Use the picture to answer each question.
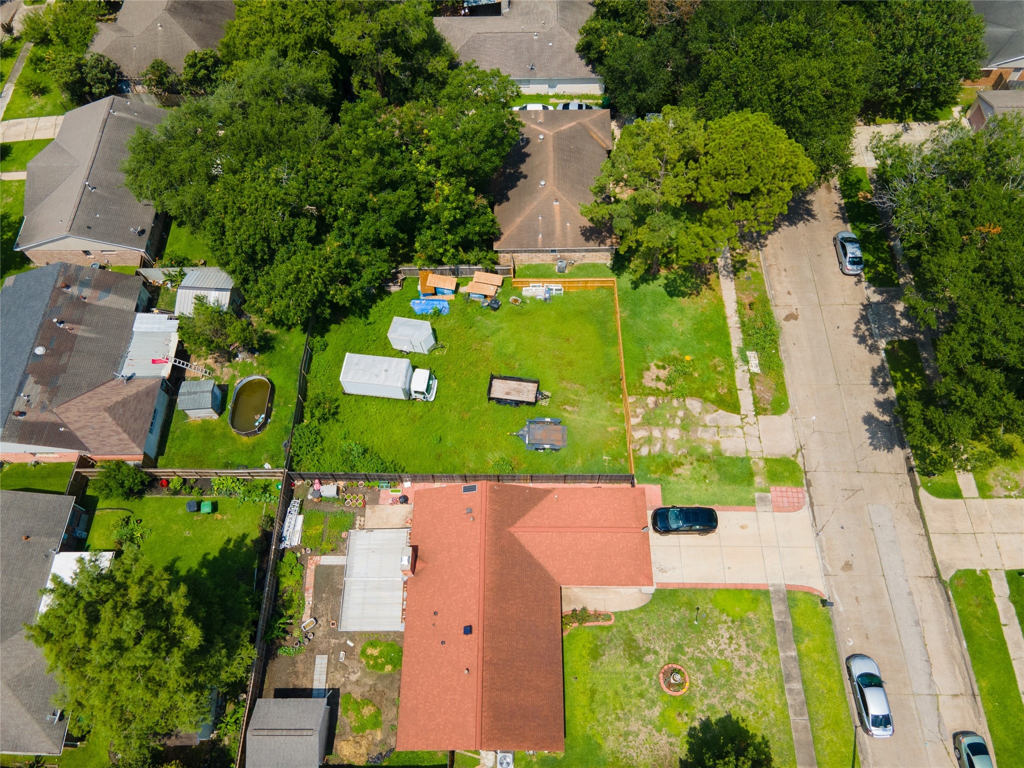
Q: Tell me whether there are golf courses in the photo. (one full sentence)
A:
No, the scene contains no golf course.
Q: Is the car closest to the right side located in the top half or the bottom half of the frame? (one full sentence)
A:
You can find the car closest to the right side in the bottom half.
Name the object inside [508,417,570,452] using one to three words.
trailer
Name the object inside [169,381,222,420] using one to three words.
shed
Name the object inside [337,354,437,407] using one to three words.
truck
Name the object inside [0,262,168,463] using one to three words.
house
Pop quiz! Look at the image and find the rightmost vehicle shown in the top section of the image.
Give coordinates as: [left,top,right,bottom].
[831,234,864,275]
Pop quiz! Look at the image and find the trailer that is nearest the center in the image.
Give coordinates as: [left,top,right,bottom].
[487,373,553,409]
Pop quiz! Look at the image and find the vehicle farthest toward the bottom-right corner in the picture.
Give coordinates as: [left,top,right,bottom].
[953,730,998,768]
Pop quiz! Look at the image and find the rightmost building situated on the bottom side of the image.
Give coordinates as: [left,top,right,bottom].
[393,479,655,750]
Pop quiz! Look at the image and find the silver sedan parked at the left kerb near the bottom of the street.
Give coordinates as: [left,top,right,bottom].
[845,656,891,737]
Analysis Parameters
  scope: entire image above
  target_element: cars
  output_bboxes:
[953,730,998,768]
[831,234,864,275]
[650,504,719,538]
[514,100,555,111]
[845,656,891,737]
[559,100,603,111]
